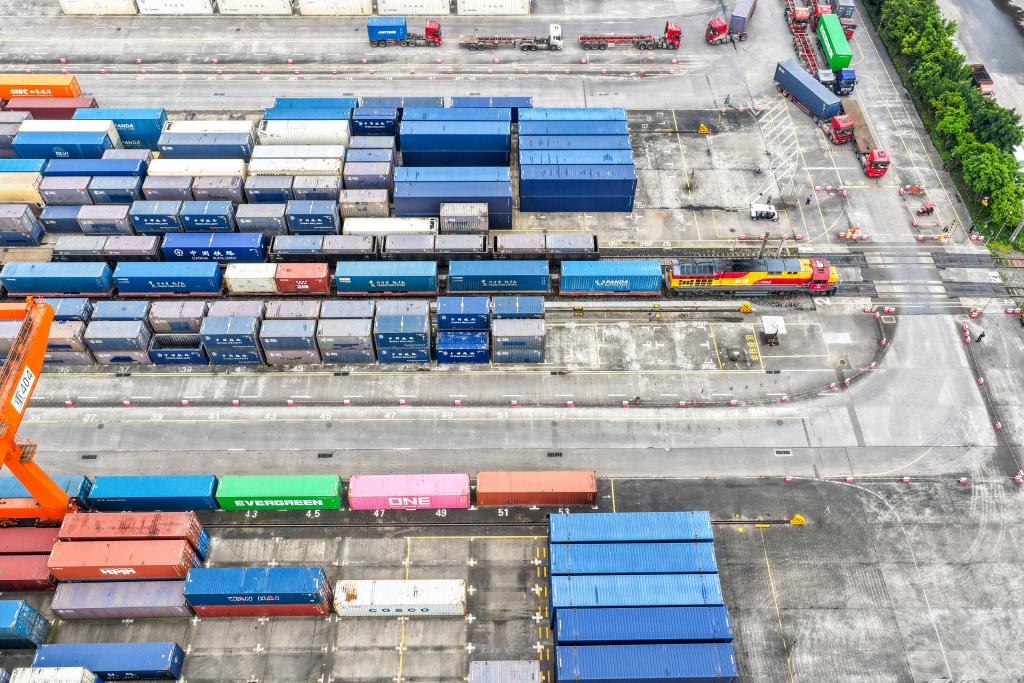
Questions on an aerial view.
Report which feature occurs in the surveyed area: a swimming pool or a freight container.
freight container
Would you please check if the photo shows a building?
No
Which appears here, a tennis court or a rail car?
rail car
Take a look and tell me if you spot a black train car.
Yes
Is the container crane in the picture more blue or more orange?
orange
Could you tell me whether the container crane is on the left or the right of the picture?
left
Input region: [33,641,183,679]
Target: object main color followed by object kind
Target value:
blue shipping container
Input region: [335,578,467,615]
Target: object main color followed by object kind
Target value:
white shipping container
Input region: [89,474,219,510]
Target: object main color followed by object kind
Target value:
blue shipping container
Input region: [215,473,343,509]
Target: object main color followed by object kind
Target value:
green shipping container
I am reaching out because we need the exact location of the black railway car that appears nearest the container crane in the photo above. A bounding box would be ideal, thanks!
[52,237,165,267]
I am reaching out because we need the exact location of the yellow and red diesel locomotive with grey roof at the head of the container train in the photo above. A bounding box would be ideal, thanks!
[660,260,837,295]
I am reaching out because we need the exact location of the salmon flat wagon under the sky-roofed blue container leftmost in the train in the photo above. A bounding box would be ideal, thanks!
[3,280,117,297]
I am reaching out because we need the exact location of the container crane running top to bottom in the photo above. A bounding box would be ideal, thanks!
[0,301,75,527]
